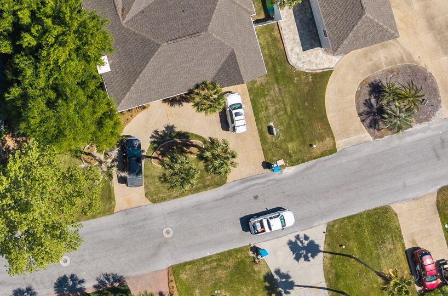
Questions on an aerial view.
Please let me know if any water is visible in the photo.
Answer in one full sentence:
No, water can't be seen anywhere here.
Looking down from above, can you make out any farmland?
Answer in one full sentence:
No, there is no farmland in the image.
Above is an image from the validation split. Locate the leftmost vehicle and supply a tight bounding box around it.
[123,135,145,187]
